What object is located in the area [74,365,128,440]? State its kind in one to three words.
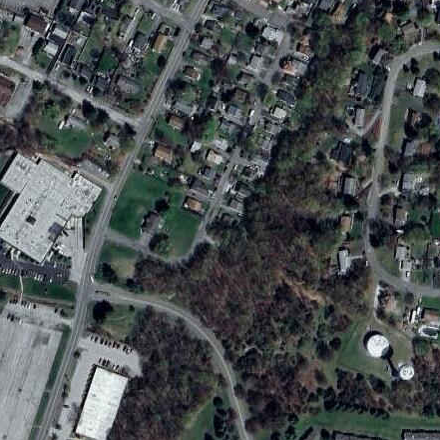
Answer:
building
